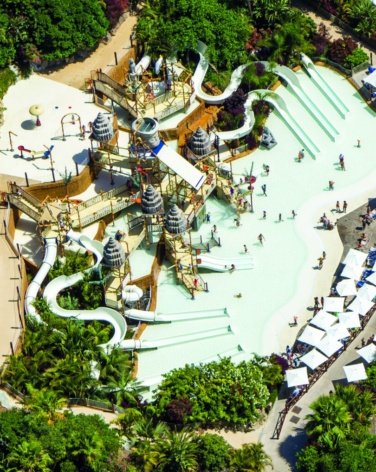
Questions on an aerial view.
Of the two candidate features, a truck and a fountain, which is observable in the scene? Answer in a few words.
fountain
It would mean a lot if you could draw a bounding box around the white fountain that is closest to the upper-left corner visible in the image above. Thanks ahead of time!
[23,99,50,128]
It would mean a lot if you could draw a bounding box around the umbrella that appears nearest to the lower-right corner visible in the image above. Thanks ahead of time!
[342,365,368,390]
